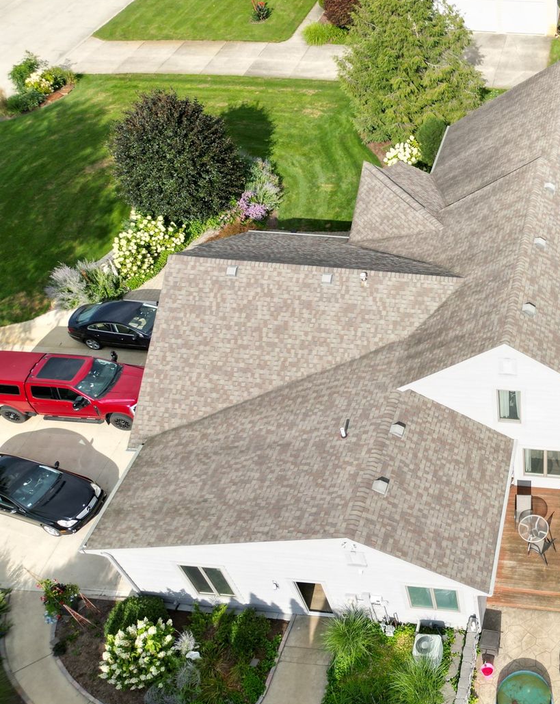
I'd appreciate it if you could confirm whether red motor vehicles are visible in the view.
Yes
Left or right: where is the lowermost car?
left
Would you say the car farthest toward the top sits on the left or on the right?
left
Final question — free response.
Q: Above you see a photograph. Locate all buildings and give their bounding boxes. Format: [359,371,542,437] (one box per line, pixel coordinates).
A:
[430,0,560,36]
[76,61,560,637]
